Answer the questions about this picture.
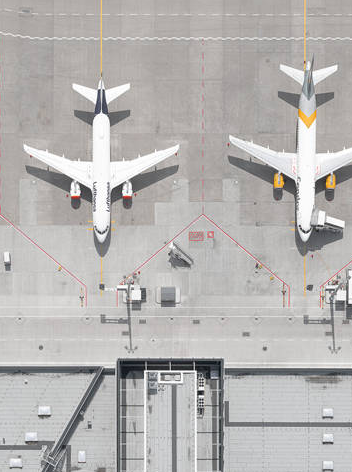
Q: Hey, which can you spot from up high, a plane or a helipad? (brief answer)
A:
plane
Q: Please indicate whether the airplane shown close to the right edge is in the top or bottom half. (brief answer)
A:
top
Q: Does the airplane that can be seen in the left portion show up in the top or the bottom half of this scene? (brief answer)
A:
top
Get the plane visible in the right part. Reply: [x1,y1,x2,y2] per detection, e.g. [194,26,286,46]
[229,55,352,242]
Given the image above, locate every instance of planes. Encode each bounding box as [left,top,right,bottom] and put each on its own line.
[229,55,352,242]
[23,71,180,242]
